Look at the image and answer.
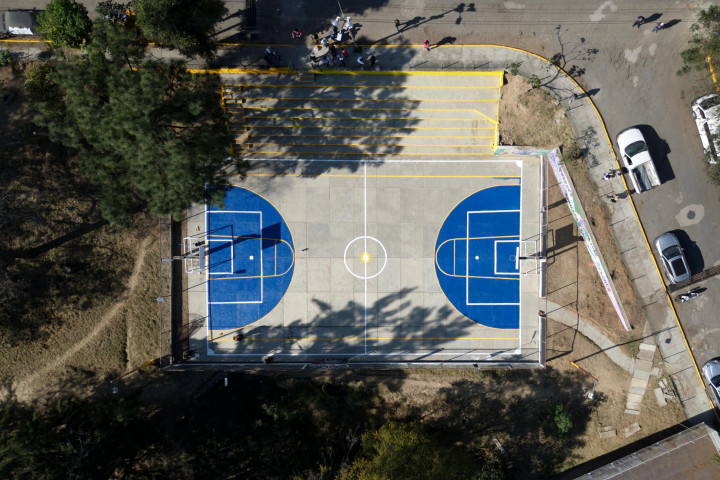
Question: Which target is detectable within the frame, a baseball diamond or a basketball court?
basketball court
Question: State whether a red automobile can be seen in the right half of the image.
No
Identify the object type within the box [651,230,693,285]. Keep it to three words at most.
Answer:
car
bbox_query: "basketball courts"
[188,154,541,361]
